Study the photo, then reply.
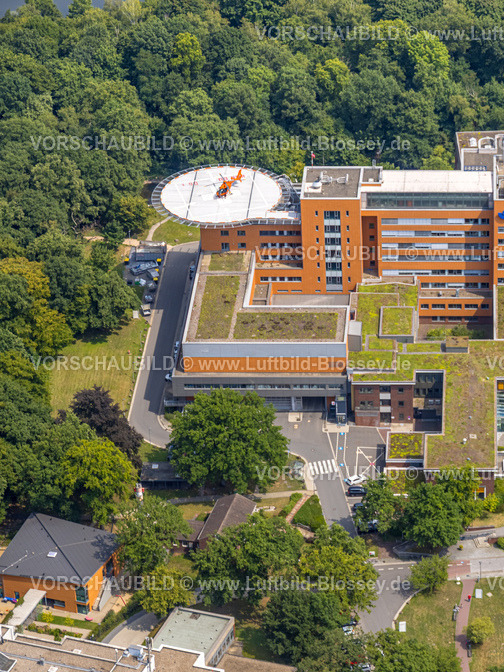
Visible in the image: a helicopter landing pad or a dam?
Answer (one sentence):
Visible in the photo is a helicopter landing pad.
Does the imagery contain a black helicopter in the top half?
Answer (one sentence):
No, there is no black helicopter in the top half.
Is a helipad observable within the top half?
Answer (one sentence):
Yes, a helipad is visible within the top half.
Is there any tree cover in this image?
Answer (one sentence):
Yes, the picture does contain tree cover.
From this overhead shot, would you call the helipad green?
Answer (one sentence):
No, from above the helipad looks white.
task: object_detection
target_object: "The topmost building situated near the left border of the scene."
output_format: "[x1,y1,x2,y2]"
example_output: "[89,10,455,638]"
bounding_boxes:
[0,513,119,610]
